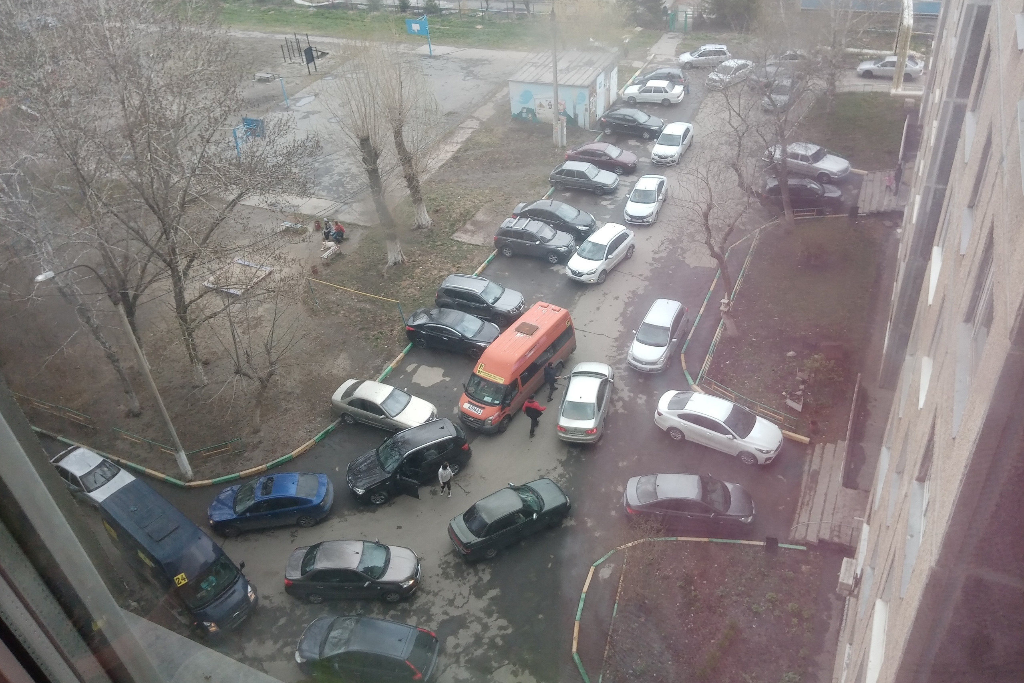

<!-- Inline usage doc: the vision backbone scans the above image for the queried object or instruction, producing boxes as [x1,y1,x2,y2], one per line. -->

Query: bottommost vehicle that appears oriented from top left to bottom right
[102,483,255,639]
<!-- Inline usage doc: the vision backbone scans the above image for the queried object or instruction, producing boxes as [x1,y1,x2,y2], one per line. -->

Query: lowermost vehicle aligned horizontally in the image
[292,612,448,683]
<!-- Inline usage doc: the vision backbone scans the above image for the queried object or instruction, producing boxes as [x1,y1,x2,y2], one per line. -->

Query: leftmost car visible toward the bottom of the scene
[45,445,144,520]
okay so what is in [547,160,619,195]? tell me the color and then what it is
gray car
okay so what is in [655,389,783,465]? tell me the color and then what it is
white car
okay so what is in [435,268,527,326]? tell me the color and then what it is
gray car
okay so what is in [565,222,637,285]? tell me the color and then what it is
white car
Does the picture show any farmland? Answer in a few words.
No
